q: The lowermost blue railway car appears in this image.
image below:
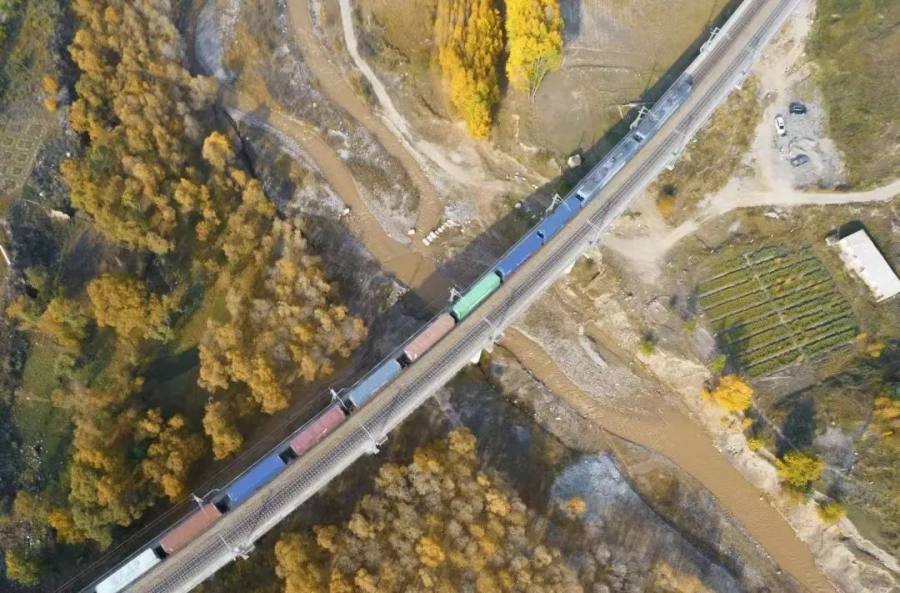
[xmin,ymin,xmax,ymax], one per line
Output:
[223,448,291,505]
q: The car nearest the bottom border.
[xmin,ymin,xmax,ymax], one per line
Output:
[788,154,810,169]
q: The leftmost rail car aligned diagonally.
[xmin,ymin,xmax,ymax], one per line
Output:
[85,544,166,593]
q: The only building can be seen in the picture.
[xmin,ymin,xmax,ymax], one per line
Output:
[836,231,900,301]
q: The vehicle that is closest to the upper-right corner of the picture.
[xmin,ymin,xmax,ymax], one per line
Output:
[787,102,809,114]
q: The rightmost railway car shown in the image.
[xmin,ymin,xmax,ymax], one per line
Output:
[633,78,695,148]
